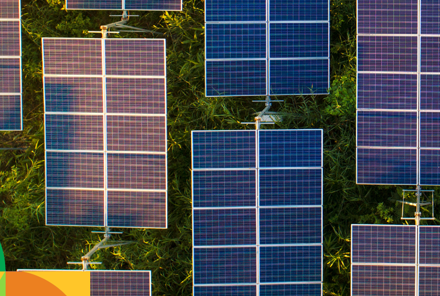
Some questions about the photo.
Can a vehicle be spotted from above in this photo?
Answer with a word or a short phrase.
No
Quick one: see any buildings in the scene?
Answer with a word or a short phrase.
No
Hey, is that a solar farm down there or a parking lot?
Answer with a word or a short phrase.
solar farm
